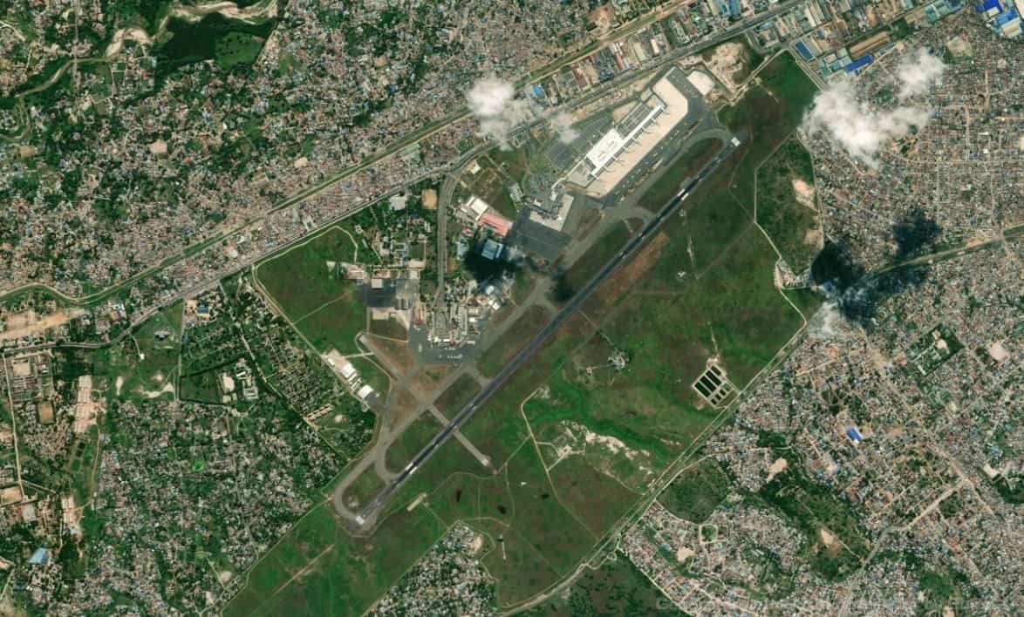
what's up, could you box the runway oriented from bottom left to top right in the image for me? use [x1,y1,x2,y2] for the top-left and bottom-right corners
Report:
[352,132,743,529]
